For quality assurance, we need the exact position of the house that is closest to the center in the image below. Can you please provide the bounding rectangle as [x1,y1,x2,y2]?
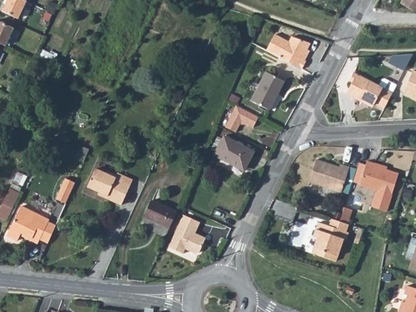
[214,134,256,172]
